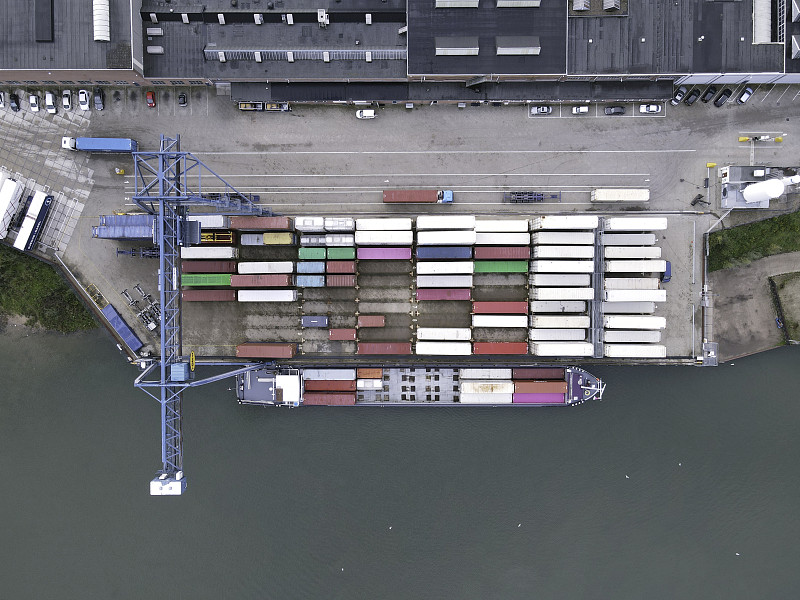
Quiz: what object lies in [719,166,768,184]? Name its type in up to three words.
building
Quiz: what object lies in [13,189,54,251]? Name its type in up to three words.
trailer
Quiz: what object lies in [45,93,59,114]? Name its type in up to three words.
vehicle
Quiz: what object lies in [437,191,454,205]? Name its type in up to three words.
vehicle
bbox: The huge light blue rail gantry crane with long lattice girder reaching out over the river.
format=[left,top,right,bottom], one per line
[130,133,278,495]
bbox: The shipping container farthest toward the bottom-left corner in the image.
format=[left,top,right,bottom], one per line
[102,303,148,352]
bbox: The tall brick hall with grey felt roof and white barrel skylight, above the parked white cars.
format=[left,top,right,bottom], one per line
[0,0,151,85]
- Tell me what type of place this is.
port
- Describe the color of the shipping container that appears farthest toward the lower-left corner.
blue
